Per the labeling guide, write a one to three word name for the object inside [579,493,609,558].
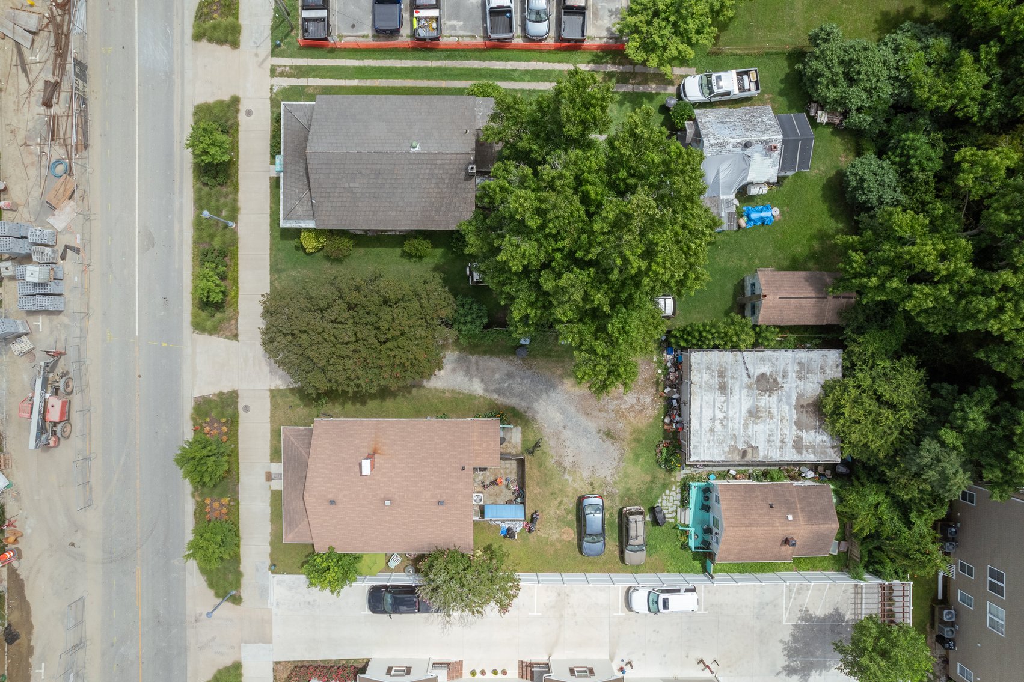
car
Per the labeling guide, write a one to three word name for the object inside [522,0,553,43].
car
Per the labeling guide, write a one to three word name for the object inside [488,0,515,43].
truck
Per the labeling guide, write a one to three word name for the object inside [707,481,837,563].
house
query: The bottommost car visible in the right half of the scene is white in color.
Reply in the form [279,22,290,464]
[627,585,700,619]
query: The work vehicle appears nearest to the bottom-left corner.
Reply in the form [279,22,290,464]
[14,342,73,453]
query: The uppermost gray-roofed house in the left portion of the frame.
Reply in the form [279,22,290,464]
[278,94,502,230]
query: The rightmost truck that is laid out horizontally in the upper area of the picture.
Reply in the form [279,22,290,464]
[678,67,764,106]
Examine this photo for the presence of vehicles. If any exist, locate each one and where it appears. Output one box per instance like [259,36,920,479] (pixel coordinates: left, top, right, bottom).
[579,493,609,558]
[522,0,553,43]
[641,292,676,320]
[14,342,73,453]
[413,0,442,43]
[620,504,650,566]
[367,585,442,618]
[527,510,541,536]
[627,585,700,619]
[678,67,764,106]
[301,0,332,46]
[488,0,515,43]
[374,0,404,39]
[559,0,587,44]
